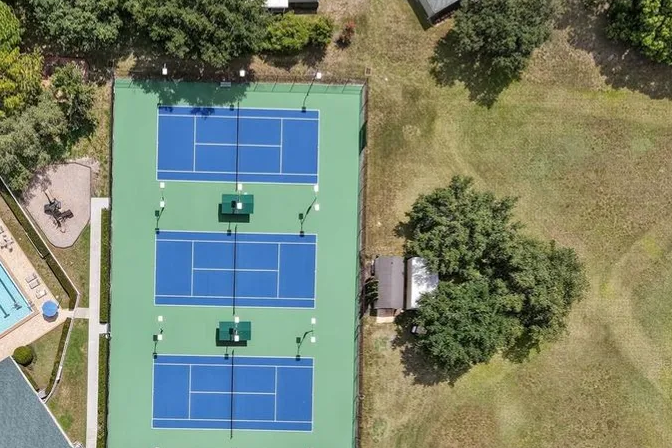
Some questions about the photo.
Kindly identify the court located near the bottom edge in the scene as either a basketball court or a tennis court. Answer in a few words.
tennis court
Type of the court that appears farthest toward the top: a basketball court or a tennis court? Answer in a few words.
tennis court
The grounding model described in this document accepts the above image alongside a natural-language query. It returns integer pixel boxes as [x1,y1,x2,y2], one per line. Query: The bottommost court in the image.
[151,348,315,438]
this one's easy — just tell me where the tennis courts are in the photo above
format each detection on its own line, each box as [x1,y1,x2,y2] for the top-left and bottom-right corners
[153,224,317,313]
[151,348,315,438]
[156,99,319,189]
